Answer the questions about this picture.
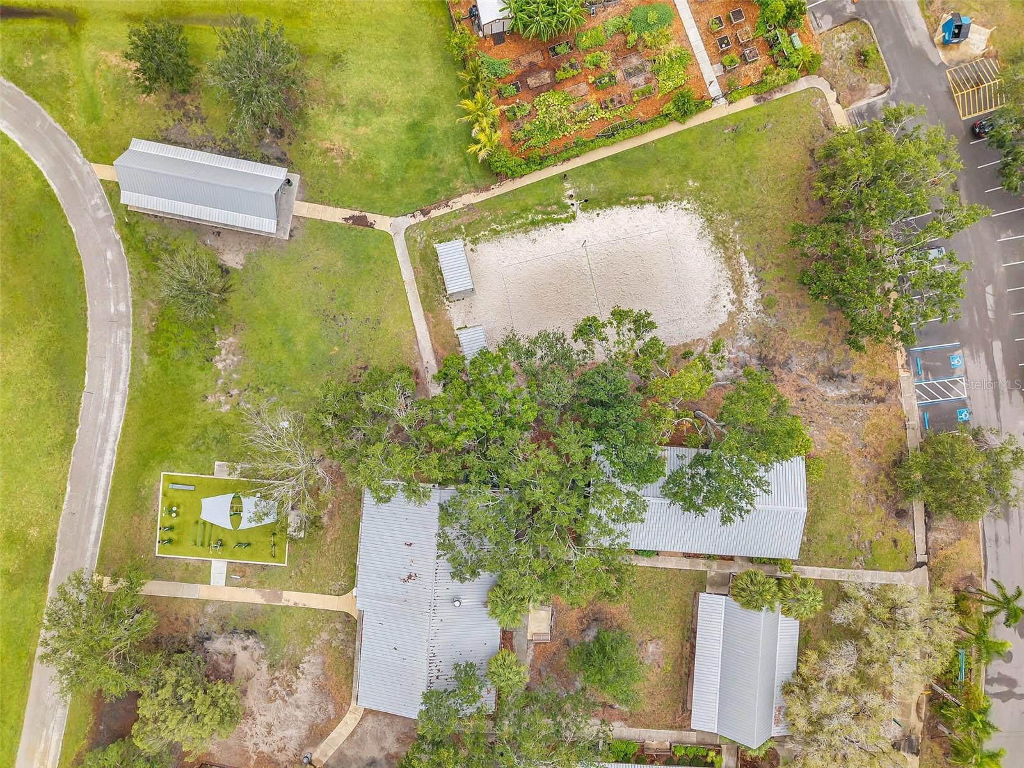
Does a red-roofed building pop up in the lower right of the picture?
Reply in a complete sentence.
No, I can find no red-roofed building in the lower right of the picture.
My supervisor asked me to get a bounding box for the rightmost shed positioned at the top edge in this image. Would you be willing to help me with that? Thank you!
[480,0,512,44]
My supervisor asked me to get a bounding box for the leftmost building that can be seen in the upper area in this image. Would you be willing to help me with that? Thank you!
[113,138,288,234]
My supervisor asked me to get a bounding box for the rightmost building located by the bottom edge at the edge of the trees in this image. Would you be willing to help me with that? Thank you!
[690,592,800,749]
